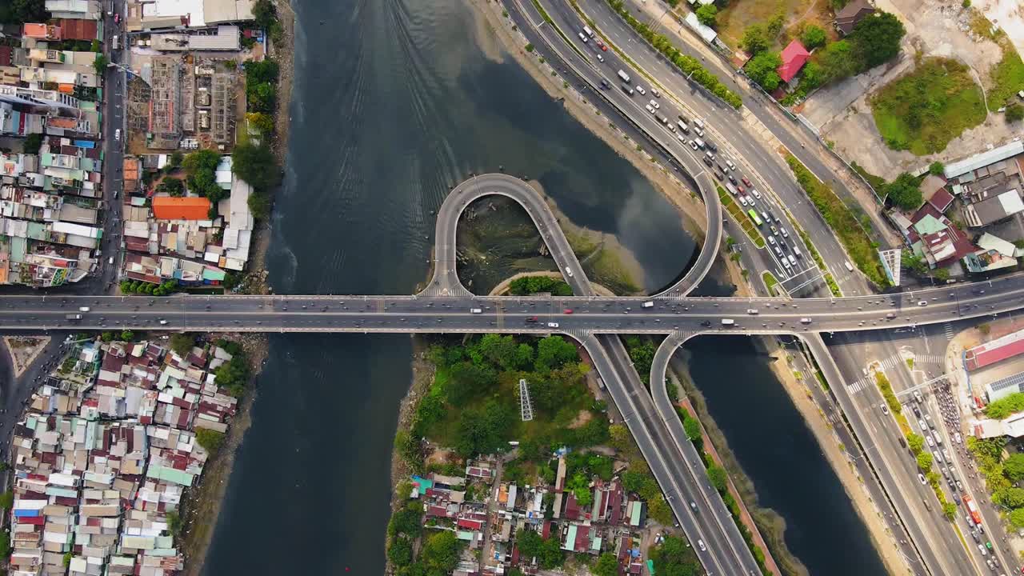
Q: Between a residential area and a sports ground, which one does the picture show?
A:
residential area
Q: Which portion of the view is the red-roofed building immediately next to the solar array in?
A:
right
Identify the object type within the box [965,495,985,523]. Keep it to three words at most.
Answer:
bus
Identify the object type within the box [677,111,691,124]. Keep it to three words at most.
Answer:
vehicle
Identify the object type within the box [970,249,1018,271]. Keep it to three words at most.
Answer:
building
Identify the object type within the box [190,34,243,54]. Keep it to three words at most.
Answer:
shed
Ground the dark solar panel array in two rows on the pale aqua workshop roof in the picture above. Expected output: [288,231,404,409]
[991,372,1024,393]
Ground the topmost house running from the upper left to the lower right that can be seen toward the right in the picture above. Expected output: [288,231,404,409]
[684,13,717,43]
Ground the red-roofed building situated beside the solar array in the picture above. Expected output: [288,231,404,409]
[959,326,1024,371]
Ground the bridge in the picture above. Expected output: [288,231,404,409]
[0,274,1024,333]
